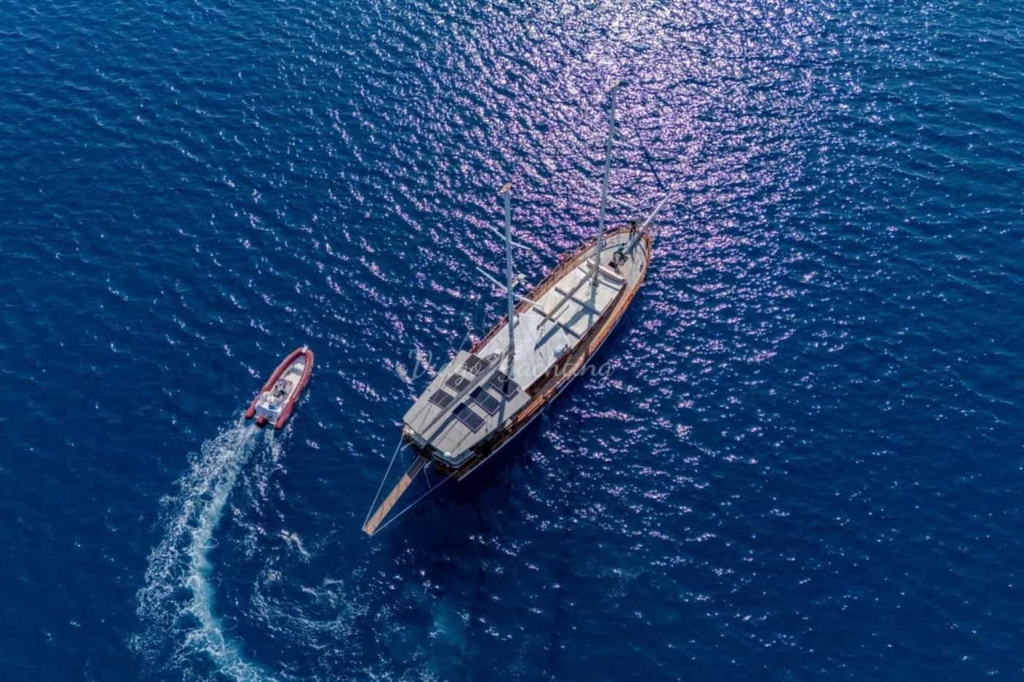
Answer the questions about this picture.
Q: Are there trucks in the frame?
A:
No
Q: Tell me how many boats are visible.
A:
2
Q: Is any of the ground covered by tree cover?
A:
No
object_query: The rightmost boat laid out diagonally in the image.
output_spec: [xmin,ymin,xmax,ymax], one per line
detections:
[360,78,668,539]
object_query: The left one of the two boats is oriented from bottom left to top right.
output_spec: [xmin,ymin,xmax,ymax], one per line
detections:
[247,343,312,429]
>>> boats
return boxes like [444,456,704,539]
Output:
[360,78,668,539]
[247,343,312,429]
